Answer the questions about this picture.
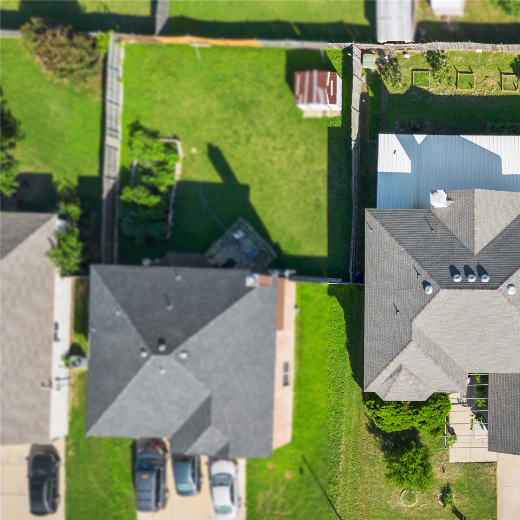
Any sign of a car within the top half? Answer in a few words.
No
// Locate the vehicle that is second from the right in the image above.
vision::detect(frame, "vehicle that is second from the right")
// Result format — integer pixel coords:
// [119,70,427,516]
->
[172,454,204,494]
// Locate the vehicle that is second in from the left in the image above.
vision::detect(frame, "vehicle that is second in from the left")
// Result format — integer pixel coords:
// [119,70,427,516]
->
[134,440,169,507]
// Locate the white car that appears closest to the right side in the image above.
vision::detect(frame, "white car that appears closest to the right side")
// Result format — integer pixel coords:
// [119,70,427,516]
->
[208,458,242,520]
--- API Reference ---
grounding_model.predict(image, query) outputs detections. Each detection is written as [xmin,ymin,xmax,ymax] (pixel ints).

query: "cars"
[208,458,242,520]
[26,447,63,512]
[172,454,204,494]
[134,440,169,507]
